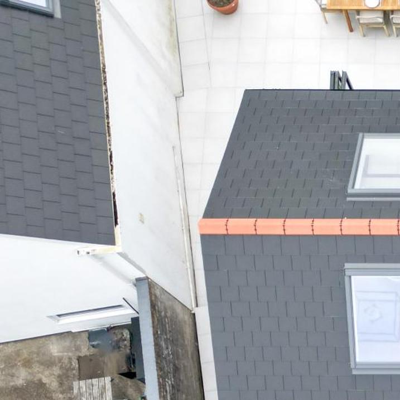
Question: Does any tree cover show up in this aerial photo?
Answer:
No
